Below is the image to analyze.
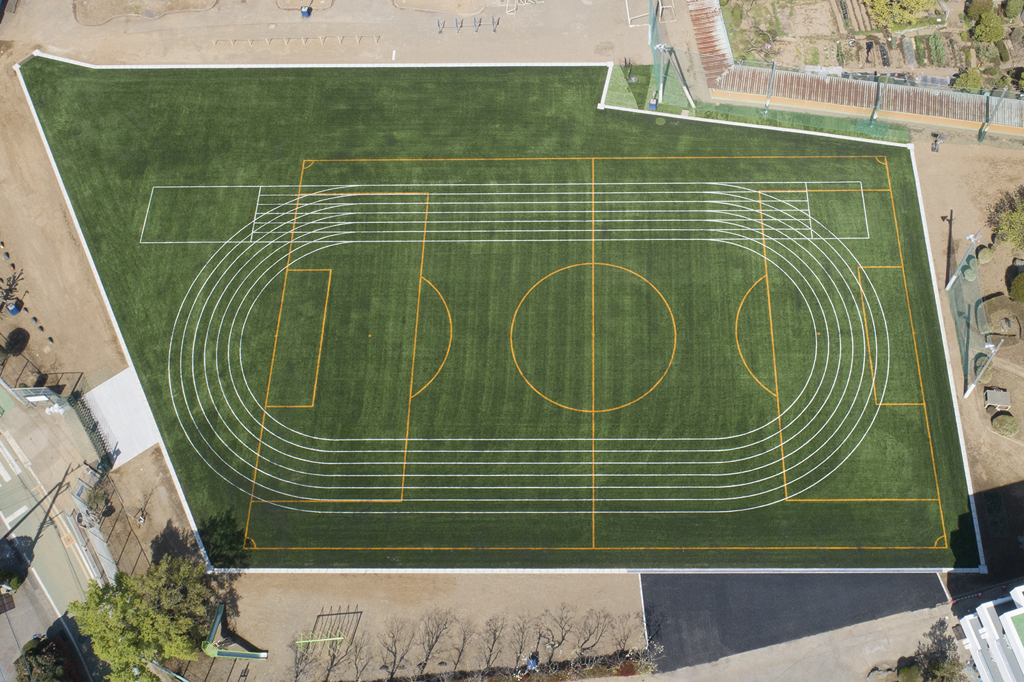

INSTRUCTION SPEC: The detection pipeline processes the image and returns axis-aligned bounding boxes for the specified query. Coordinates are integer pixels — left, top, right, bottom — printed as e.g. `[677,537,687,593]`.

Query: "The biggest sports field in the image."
[19,54,980,567]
